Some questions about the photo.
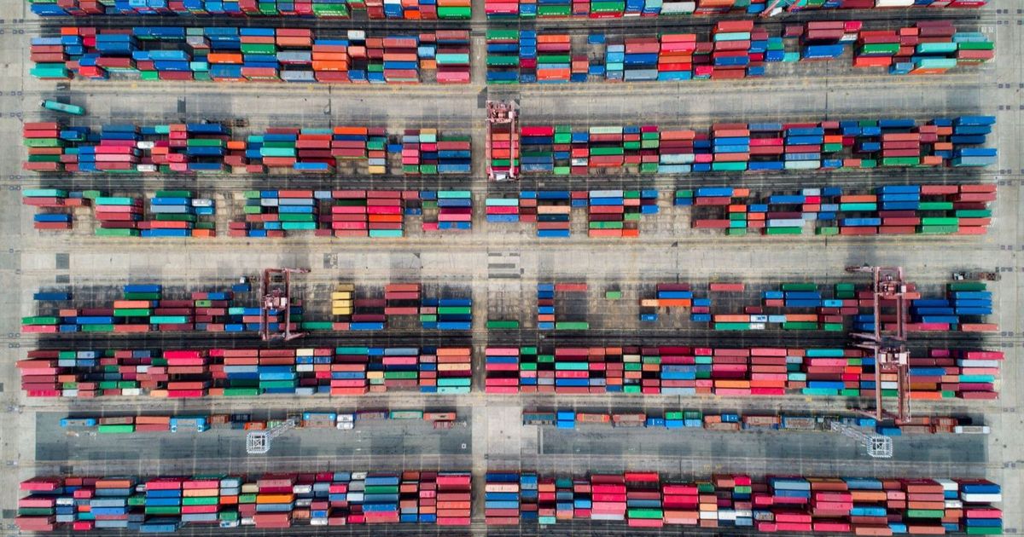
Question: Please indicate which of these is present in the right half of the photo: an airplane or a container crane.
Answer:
container crane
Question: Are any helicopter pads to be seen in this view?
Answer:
No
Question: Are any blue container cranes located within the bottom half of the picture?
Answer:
No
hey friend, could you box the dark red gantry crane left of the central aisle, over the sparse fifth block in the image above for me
[260,267,315,340]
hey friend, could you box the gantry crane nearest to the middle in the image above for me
[484,99,522,180]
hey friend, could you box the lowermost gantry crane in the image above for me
[841,343,909,421]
